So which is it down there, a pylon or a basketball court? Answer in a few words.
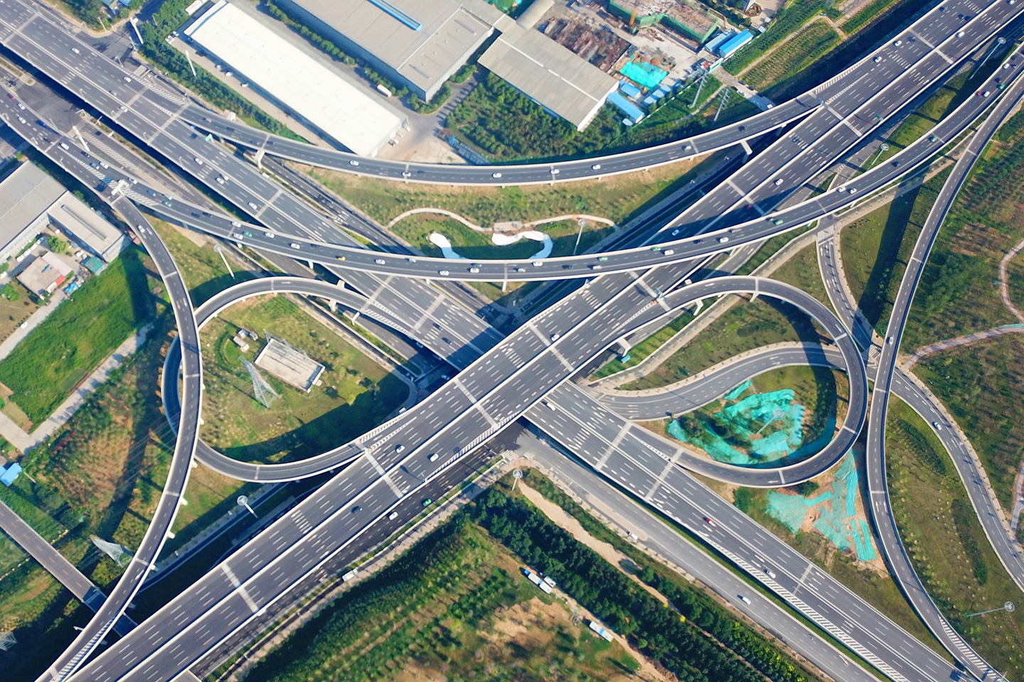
pylon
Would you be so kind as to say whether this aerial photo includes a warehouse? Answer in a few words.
Yes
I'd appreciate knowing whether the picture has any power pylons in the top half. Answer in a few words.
Yes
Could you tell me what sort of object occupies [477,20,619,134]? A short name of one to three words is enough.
warehouse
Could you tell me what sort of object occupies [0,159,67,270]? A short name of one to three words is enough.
building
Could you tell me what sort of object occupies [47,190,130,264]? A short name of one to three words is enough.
building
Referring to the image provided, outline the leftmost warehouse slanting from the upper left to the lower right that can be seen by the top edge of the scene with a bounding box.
[184,0,401,157]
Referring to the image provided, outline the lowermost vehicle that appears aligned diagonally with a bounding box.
[587,620,616,644]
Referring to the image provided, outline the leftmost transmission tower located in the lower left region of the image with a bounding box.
[0,623,25,657]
